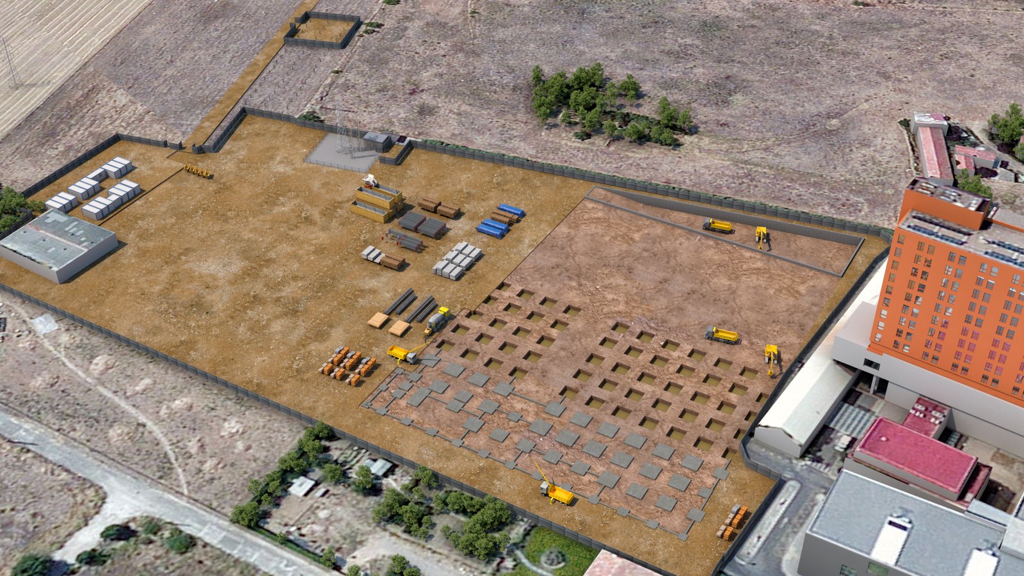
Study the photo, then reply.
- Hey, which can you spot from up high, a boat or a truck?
truck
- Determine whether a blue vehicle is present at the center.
No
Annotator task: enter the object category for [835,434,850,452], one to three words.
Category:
vehicle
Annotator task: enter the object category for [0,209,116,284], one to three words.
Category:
shed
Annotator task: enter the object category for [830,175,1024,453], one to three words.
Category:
building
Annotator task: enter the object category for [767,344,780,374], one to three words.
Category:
vehicle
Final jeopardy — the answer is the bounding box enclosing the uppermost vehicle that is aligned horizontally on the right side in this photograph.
[704,218,736,236]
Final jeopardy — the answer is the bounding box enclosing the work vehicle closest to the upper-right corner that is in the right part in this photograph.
[756,227,769,251]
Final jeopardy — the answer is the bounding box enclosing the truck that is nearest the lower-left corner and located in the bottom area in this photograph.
[388,345,429,368]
